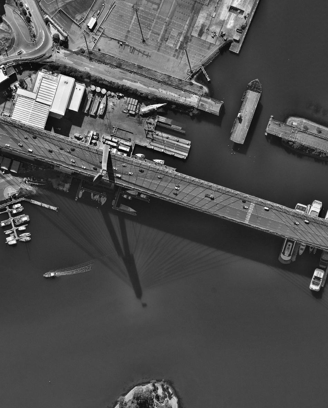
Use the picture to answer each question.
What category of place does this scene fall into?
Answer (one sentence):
The picture captures a port.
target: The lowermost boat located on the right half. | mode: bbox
[311,267,327,291]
